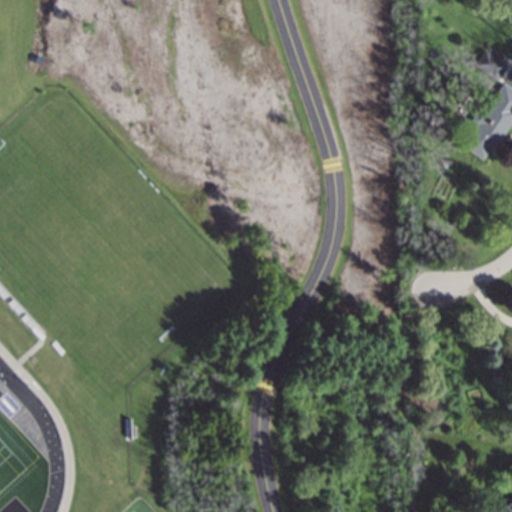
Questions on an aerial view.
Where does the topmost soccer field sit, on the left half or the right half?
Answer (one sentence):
The topmost soccer field appears in the left half of the scene.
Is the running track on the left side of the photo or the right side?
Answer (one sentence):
The running track is on the left side of the image.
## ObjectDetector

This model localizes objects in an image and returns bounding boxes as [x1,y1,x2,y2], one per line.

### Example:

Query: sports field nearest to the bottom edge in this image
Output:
[0,416,50,512]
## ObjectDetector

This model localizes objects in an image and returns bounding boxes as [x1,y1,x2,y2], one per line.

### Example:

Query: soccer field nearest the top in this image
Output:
[0,92,251,404]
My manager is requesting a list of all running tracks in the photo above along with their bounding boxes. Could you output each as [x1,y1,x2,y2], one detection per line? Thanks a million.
[0,344,73,512]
